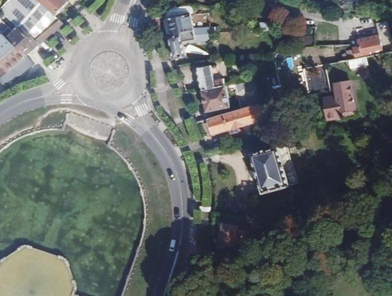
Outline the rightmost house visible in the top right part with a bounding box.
[352,34,383,58]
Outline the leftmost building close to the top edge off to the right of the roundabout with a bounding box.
[166,7,210,61]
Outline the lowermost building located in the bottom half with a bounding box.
[220,222,238,244]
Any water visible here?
Yes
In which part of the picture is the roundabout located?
top left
